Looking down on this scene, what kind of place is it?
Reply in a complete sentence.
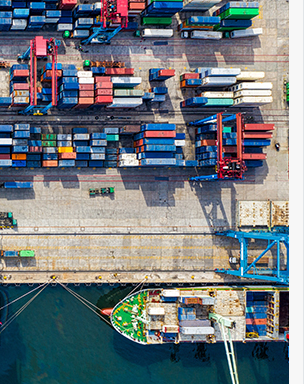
It's a port.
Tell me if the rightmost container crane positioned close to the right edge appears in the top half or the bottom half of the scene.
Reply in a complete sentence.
The bottom half of the photo is where the rightmost container crane positioned close to the right edge is.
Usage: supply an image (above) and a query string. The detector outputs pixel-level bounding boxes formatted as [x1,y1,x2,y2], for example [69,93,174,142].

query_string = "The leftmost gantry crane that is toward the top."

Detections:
[17,34,58,118]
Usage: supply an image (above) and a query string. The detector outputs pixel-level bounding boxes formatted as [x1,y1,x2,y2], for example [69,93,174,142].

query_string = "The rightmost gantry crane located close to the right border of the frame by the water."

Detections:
[217,220,304,317]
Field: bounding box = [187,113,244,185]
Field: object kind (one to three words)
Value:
container crane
